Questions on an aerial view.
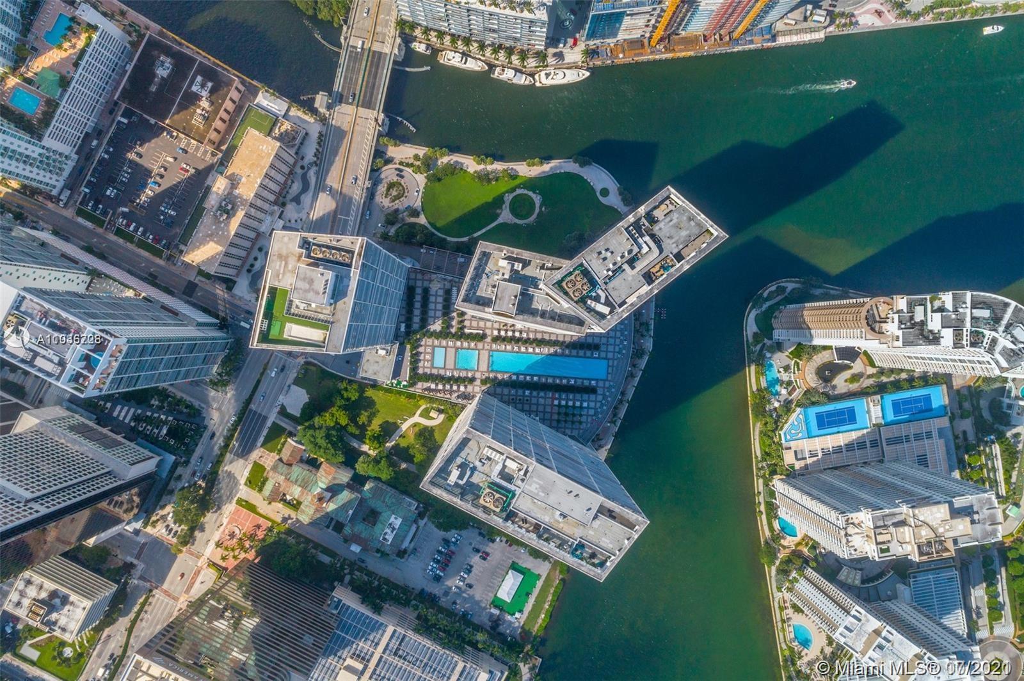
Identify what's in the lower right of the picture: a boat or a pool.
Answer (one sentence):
It is a pool that can be seen in the lower right of the picture.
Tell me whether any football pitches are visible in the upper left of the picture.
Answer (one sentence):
Yes, a football pitch appears in the upper left of the picture.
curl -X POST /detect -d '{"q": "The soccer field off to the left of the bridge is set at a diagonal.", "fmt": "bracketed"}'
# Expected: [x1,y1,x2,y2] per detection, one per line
[211,103,277,171]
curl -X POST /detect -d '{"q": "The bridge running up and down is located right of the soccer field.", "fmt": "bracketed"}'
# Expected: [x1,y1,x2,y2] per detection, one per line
[301,0,407,237]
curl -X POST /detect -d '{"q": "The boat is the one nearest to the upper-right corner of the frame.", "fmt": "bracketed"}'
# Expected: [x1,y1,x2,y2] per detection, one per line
[979,24,1004,36]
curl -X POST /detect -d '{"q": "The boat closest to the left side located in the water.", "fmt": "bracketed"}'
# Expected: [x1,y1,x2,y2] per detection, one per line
[411,42,432,54]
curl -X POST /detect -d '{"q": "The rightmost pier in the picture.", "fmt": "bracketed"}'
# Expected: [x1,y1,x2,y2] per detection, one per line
[775,27,826,49]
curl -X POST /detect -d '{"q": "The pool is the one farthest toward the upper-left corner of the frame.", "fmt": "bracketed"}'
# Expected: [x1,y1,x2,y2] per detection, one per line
[42,11,72,47]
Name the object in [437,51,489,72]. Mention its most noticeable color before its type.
white boat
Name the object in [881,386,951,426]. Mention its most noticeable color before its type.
blue tennis court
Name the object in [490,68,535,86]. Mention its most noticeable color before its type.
white boat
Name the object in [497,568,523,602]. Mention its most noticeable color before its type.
white tent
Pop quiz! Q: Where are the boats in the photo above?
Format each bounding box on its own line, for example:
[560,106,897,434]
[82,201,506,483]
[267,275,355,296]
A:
[533,68,591,88]
[411,42,432,54]
[979,24,1004,36]
[437,51,489,72]
[490,68,535,86]
[838,80,856,88]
